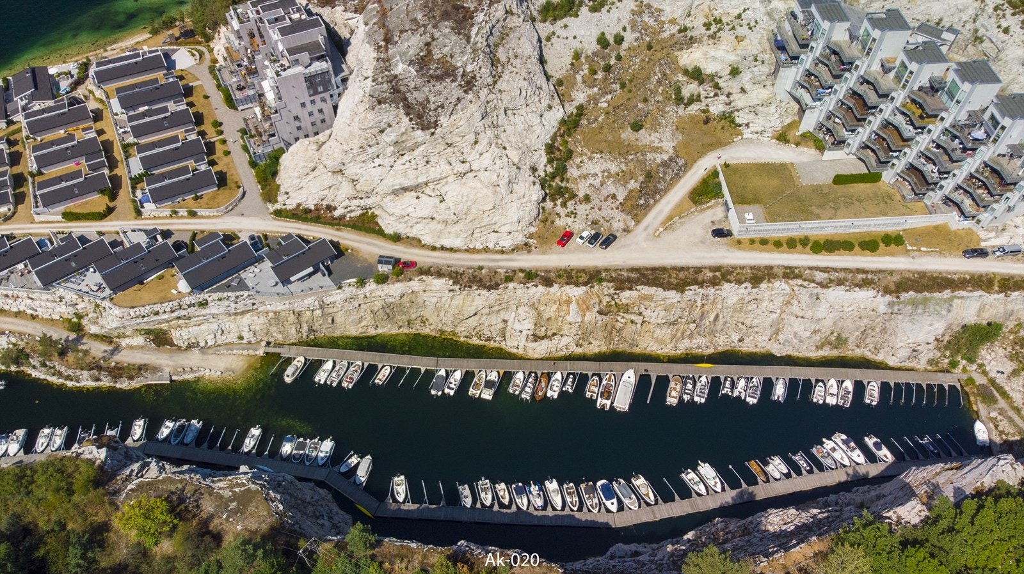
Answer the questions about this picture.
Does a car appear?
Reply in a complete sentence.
Yes, the picture does show a car.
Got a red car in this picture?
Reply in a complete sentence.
Yes, this view includes a red car.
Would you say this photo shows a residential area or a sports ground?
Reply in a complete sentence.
This looks like a residential area.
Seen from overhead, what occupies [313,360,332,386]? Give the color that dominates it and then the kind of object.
white boat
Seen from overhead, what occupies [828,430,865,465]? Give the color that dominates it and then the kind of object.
white boat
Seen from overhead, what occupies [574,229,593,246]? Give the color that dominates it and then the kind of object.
white car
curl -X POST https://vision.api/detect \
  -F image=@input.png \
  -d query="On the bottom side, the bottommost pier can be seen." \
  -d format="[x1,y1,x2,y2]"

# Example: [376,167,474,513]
[0,441,977,529]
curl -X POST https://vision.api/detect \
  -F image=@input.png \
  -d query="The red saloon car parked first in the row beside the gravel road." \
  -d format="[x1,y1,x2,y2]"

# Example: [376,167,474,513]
[555,230,573,249]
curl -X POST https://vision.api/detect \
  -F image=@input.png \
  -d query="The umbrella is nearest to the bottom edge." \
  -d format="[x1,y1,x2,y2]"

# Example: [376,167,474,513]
[174,282,193,298]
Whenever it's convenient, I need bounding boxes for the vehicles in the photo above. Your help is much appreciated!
[598,230,620,251]
[574,229,593,246]
[960,248,991,259]
[170,237,188,256]
[245,233,264,252]
[710,227,733,239]
[990,243,1023,259]
[585,229,605,249]
[555,230,573,249]
[396,259,417,269]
